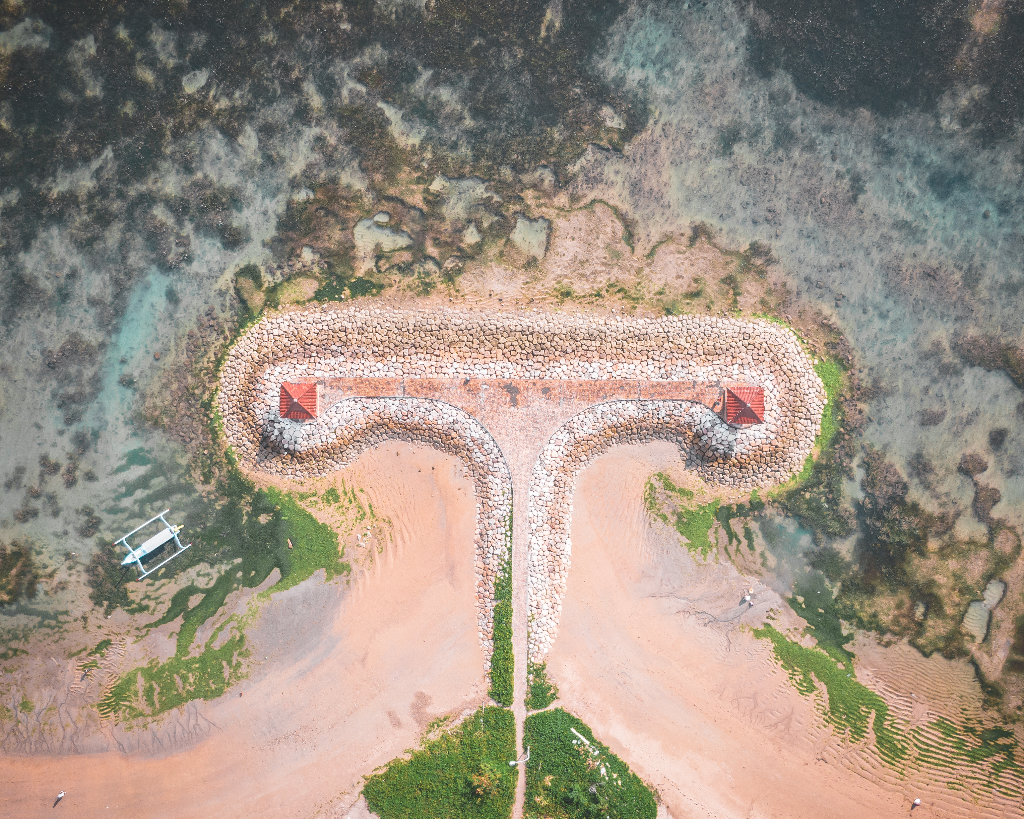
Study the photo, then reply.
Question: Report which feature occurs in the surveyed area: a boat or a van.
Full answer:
Visible in the photo is a boat.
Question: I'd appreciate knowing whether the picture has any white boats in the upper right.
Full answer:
No, there's no white boat to be seen in the upper right.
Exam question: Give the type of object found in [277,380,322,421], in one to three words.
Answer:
gazebo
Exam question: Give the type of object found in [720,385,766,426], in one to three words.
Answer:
gazebo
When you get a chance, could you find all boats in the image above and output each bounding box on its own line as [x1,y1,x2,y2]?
[112,508,193,582]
